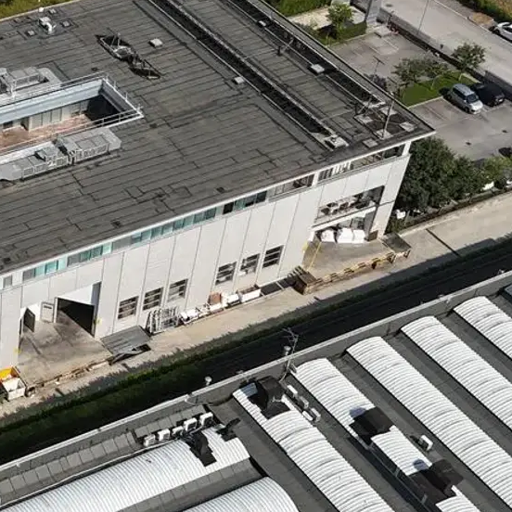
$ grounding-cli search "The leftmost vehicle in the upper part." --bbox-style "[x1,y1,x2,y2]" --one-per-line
[442,81,482,114]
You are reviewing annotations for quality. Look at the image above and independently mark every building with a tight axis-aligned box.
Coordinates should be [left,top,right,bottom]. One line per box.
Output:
[0,270,512,512]
[0,0,432,395]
